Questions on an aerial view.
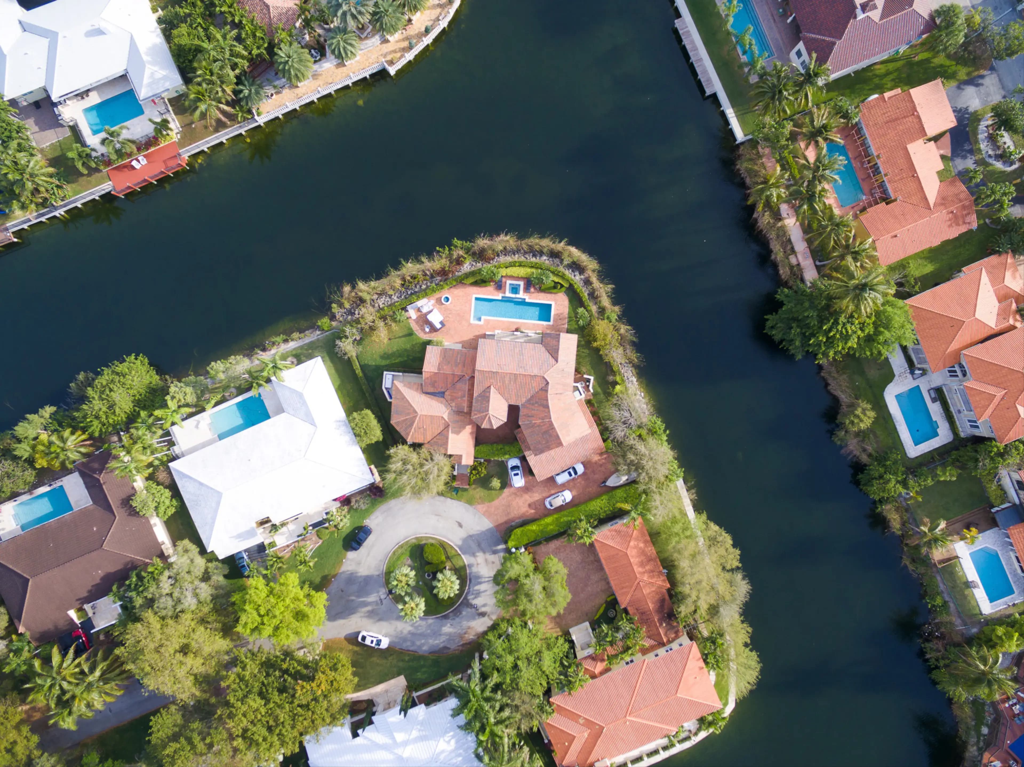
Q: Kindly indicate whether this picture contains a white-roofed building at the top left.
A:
Yes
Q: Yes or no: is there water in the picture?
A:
Yes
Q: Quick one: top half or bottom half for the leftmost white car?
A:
bottom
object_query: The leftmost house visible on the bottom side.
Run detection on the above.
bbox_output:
[0,450,168,647]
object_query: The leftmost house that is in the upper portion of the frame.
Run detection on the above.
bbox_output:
[0,0,186,106]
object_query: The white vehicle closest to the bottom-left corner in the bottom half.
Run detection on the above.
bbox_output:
[358,630,389,650]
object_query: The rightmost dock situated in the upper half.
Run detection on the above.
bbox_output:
[675,17,716,95]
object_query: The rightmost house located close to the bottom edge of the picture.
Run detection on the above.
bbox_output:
[543,517,723,767]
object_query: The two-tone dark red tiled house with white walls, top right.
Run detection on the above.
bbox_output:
[780,0,936,85]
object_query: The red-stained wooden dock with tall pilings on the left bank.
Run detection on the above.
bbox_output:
[101,138,190,198]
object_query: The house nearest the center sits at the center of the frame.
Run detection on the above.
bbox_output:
[390,329,605,482]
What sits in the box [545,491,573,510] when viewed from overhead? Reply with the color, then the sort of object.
white car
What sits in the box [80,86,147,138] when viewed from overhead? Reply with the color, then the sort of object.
blue swimming pool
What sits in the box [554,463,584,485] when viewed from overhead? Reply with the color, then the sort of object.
white car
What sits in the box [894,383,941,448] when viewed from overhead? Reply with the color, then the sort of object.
blue swimming pool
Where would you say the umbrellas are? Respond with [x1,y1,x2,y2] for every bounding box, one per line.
[1013,714,1024,726]
[1016,699,1024,711]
